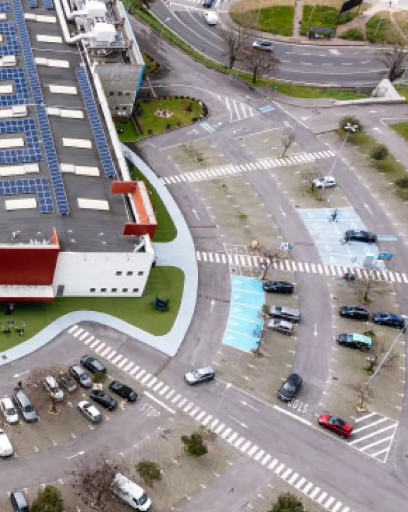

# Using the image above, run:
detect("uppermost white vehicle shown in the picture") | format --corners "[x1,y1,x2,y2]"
[202,10,221,27]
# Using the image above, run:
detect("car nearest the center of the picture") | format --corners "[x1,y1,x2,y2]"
[262,280,295,296]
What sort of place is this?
parking lot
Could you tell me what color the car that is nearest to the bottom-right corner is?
red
